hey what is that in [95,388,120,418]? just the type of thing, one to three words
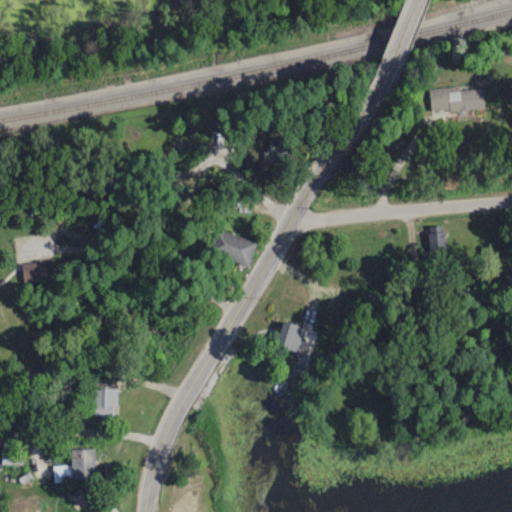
house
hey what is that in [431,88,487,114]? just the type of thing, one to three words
house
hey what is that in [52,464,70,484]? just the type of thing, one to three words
shed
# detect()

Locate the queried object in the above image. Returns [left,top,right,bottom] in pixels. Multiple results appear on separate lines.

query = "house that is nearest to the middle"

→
[212,231,258,268]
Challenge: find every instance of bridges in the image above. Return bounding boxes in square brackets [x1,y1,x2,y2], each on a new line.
[381,0,429,66]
